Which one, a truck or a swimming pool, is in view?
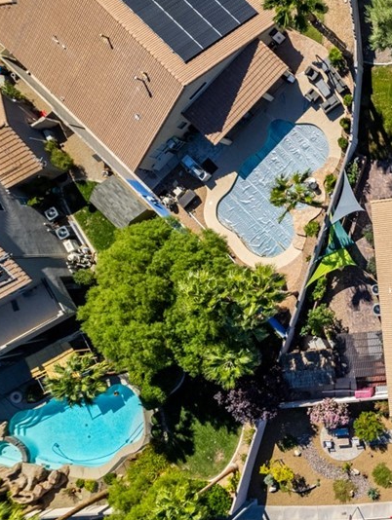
swimming pool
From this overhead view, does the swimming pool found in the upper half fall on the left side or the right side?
right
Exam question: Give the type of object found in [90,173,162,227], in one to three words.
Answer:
shed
